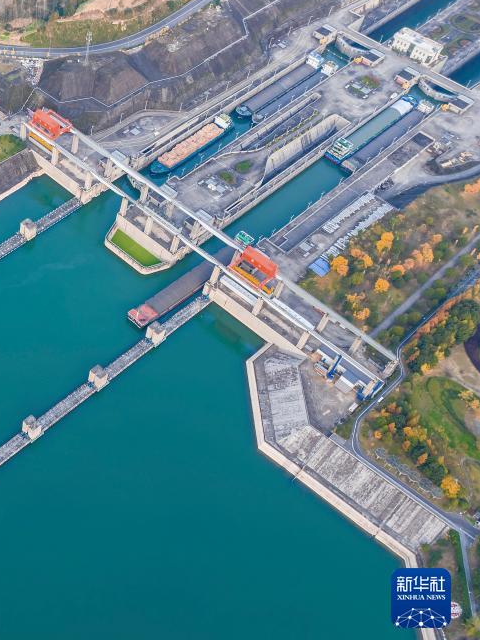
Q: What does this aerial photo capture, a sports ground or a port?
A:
port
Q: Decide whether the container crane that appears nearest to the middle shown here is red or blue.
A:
red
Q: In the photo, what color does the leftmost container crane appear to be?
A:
red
